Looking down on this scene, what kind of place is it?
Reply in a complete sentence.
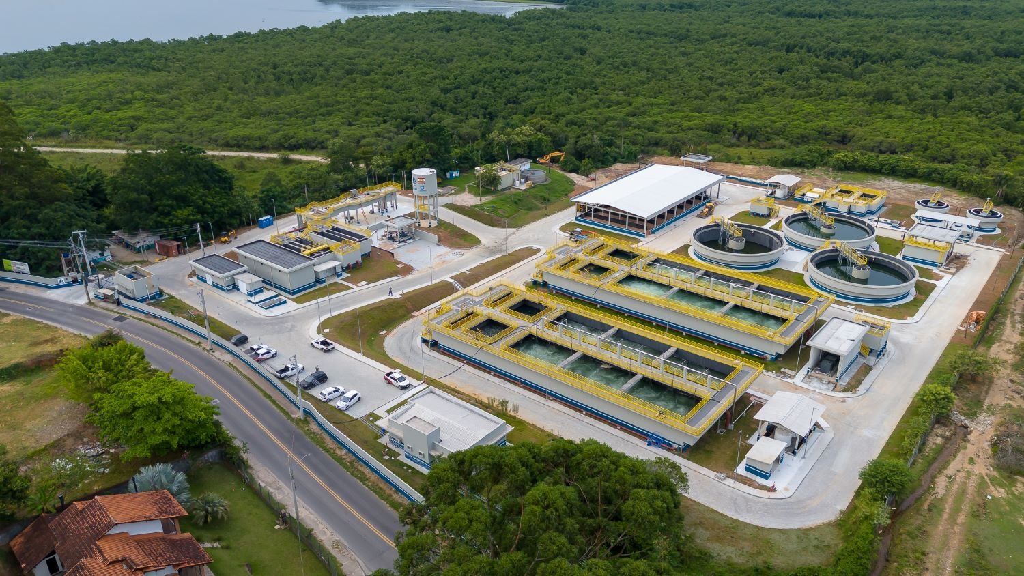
This image shows an industrial area.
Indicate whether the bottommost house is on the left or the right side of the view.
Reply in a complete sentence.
The bottommost house is on the left side of the image.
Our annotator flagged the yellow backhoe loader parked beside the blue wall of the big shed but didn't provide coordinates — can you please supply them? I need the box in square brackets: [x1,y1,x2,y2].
[696,200,718,217]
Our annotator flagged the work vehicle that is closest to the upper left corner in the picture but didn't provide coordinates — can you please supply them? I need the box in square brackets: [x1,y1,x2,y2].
[219,229,240,243]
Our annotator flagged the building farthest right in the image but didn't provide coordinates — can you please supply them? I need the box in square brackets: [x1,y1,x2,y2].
[902,222,961,266]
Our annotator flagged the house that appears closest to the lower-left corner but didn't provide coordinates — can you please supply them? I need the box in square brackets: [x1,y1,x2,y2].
[7,486,221,576]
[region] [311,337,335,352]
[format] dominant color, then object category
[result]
white vehicle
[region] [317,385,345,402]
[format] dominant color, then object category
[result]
white car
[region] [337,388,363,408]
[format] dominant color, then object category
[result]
white car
